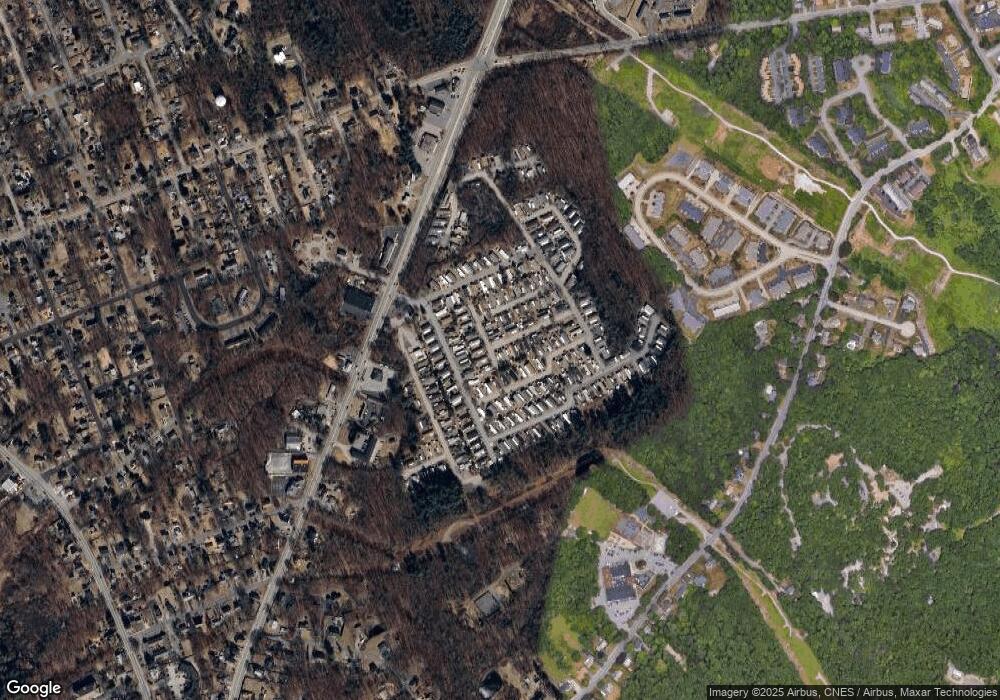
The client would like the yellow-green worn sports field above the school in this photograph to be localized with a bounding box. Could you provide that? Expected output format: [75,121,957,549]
[571,488,618,538]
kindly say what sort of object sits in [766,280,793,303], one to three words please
house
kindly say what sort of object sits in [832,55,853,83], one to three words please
building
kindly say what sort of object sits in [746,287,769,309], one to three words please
house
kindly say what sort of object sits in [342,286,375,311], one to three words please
building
